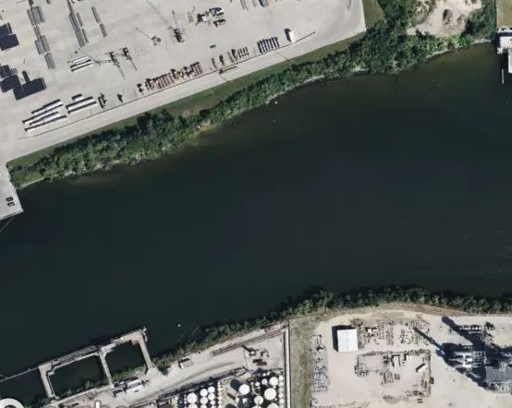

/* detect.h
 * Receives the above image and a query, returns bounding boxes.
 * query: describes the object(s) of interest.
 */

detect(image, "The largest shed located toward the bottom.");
[336,329,357,352]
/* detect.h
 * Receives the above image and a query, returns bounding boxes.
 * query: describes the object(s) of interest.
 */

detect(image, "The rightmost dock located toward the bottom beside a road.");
[38,327,153,398]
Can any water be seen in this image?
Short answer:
Yes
